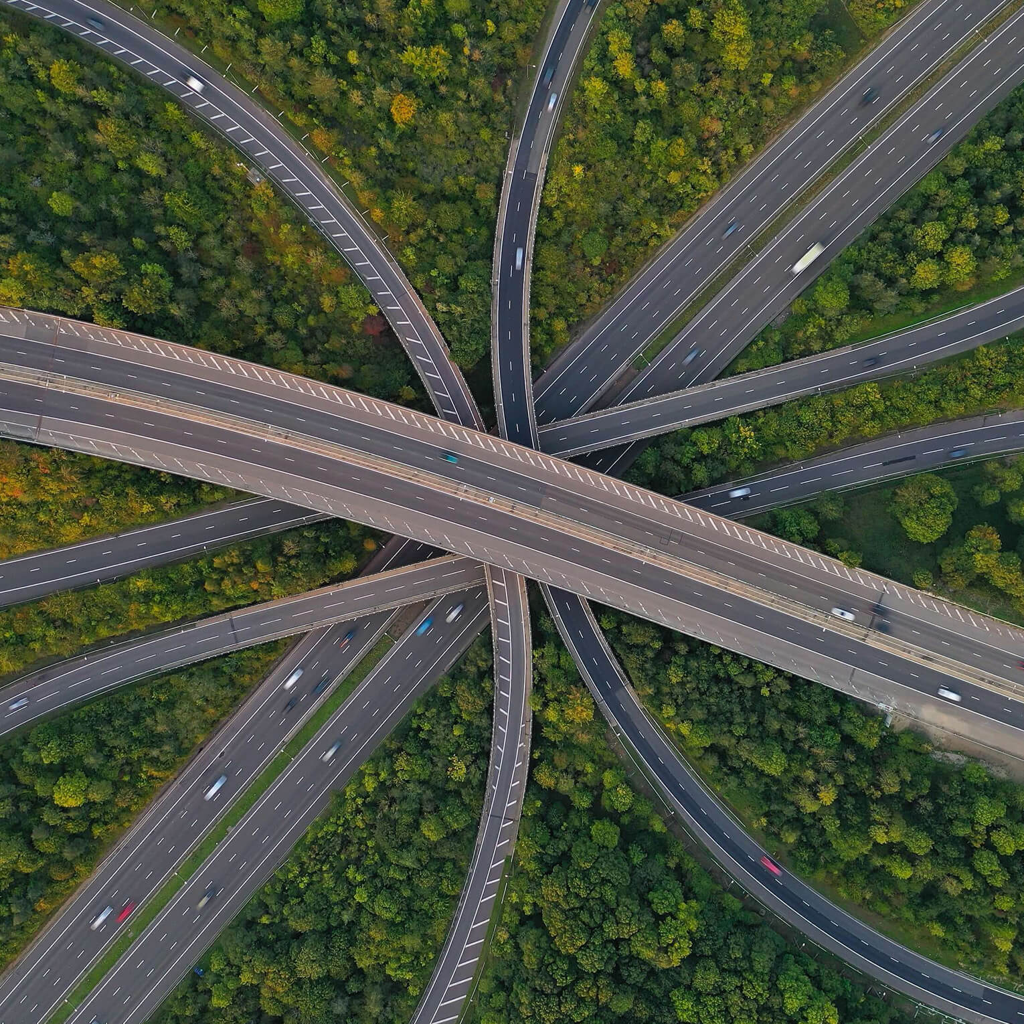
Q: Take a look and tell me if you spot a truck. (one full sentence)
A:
Yes, there's a truck down there.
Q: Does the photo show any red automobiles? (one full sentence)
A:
Yes, the photo shows a red automobile.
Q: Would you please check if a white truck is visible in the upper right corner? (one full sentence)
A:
Yes, I can see a white truck in the upper right corner.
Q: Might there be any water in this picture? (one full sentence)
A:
No, water can't be seen anywhere here.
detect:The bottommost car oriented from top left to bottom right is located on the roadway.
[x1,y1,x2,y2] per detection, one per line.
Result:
[761,856,780,873]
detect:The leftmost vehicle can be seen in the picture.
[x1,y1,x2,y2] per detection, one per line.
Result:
[10,696,29,709]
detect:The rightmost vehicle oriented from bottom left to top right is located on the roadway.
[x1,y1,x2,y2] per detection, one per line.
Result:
[926,129,943,145]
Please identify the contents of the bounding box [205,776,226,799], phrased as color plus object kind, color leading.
white vehicle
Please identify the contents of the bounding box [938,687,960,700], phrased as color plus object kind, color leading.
white vehicle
